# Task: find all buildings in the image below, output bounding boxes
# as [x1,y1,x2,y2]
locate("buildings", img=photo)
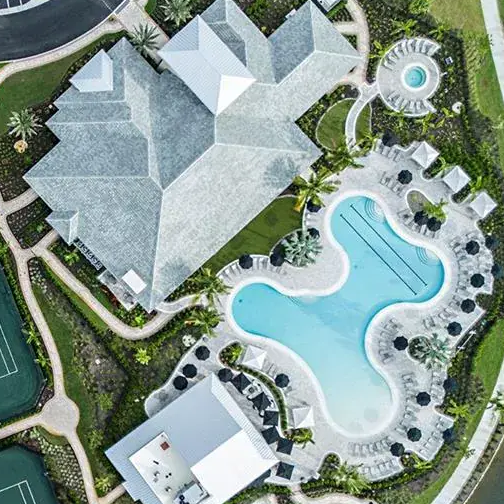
[105,374,279,504]
[24,0,364,312]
